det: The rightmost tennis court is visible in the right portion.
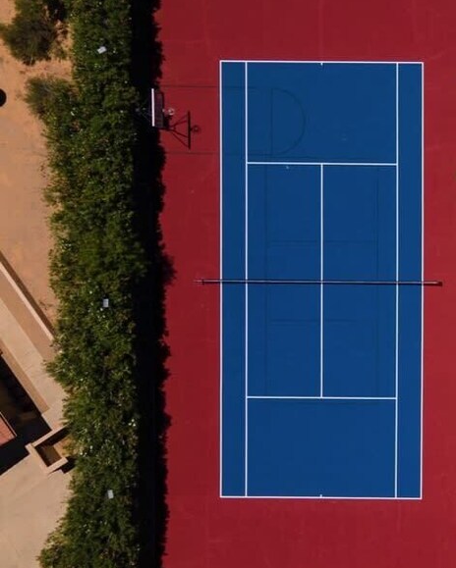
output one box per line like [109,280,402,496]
[160,0,456,568]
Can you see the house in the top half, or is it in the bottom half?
bottom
